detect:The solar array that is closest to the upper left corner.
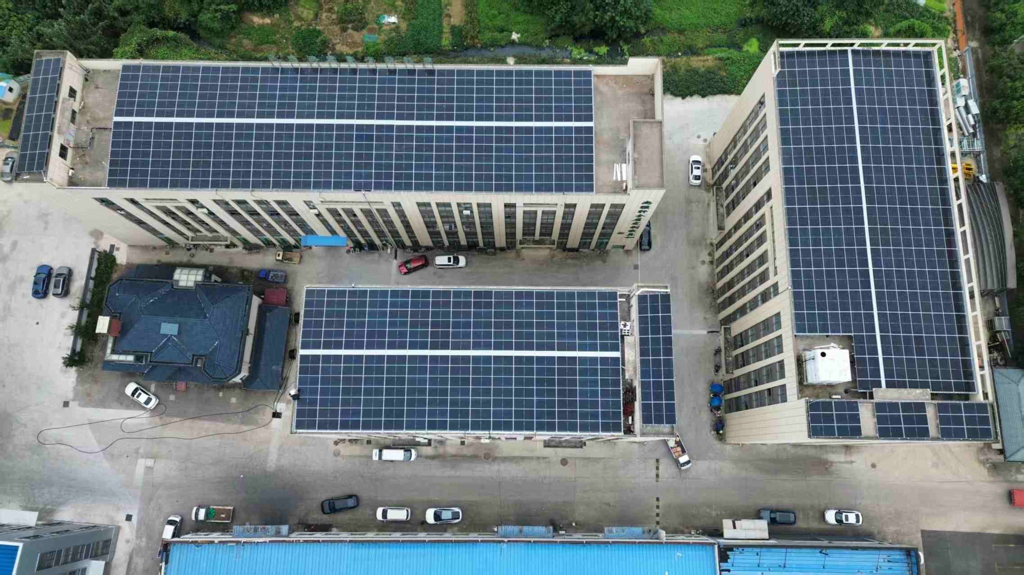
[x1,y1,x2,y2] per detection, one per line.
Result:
[17,57,61,172]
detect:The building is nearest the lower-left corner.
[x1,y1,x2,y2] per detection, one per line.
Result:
[0,511,120,575]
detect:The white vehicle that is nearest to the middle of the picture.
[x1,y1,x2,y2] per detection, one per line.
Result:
[434,254,467,270]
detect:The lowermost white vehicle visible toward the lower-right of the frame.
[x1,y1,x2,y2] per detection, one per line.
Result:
[823,508,863,526]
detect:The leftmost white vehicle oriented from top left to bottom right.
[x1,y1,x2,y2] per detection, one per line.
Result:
[123,378,164,414]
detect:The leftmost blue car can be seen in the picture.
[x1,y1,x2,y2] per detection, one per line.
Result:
[31,264,55,300]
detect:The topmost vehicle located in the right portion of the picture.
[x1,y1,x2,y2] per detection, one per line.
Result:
[687,156,703,187]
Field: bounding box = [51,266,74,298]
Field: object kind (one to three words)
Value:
car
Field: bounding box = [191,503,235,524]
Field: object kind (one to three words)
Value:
truck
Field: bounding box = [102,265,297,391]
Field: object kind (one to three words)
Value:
house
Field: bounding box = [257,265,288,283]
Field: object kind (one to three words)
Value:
vehicle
